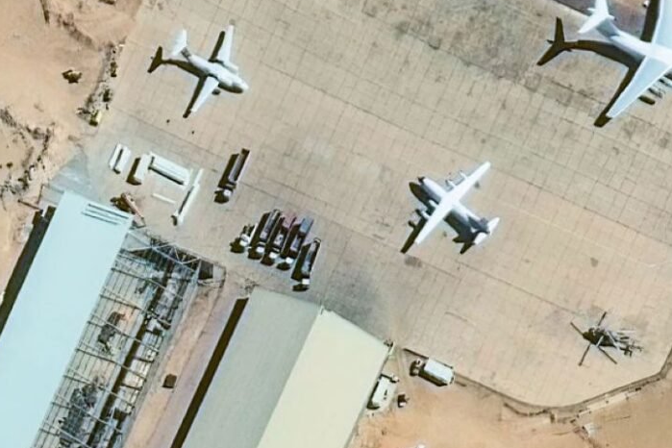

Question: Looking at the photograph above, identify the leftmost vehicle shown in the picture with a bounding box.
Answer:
[64,66,82,83]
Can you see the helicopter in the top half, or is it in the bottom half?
bottom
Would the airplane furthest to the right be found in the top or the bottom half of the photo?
top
